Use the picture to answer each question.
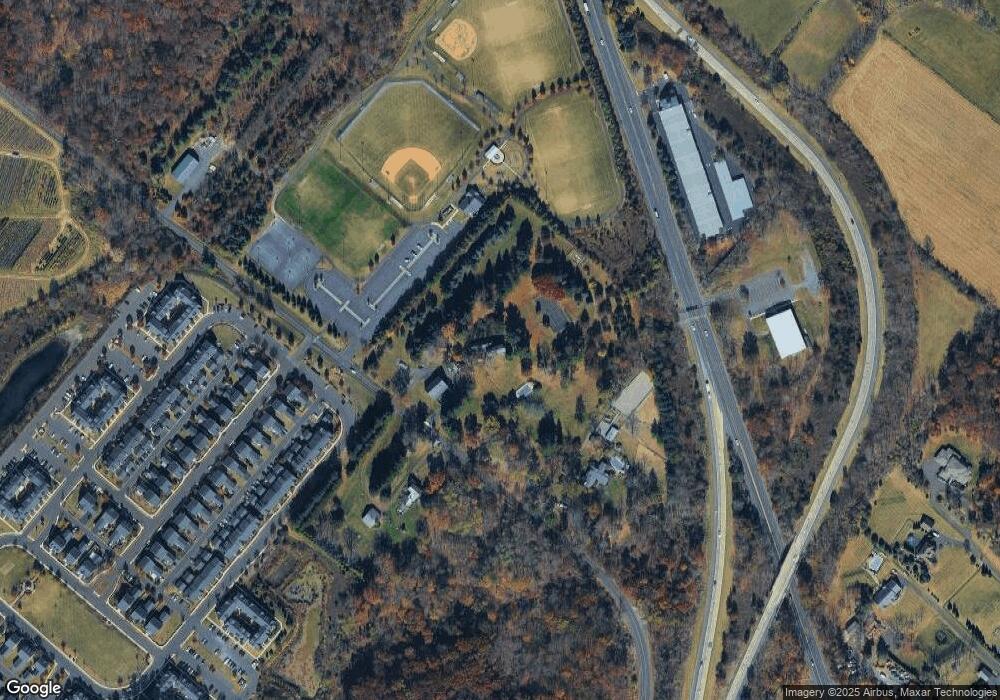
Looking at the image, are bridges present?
Yes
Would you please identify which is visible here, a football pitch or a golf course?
football pitch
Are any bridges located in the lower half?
Yes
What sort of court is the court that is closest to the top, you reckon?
basketball court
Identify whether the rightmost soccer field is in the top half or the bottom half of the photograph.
top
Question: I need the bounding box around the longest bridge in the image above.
[760,518,812,627]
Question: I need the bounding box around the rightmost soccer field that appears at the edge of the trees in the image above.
[523,92,621,217]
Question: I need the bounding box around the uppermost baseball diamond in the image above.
[436,0,582,112]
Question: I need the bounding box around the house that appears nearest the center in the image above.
[471,334,505,353]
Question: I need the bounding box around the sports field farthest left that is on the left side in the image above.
[274,145,402,276]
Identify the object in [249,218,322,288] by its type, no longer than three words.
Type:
basketball court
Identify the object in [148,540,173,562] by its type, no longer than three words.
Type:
house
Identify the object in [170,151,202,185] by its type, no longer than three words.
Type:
shed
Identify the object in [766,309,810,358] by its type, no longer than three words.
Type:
building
